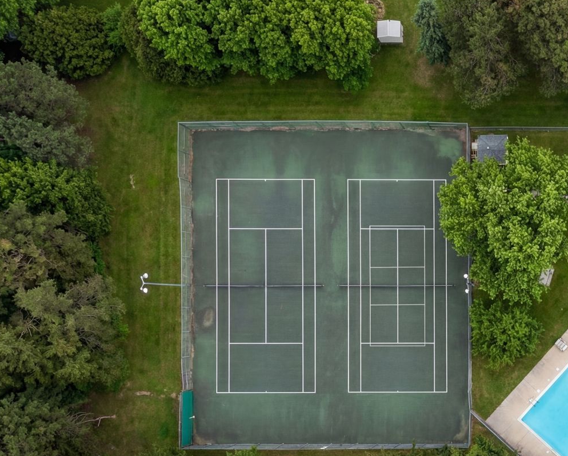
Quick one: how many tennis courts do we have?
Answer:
2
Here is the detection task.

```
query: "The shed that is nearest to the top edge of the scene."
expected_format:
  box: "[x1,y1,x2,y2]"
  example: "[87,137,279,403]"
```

[375,14,403,43]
